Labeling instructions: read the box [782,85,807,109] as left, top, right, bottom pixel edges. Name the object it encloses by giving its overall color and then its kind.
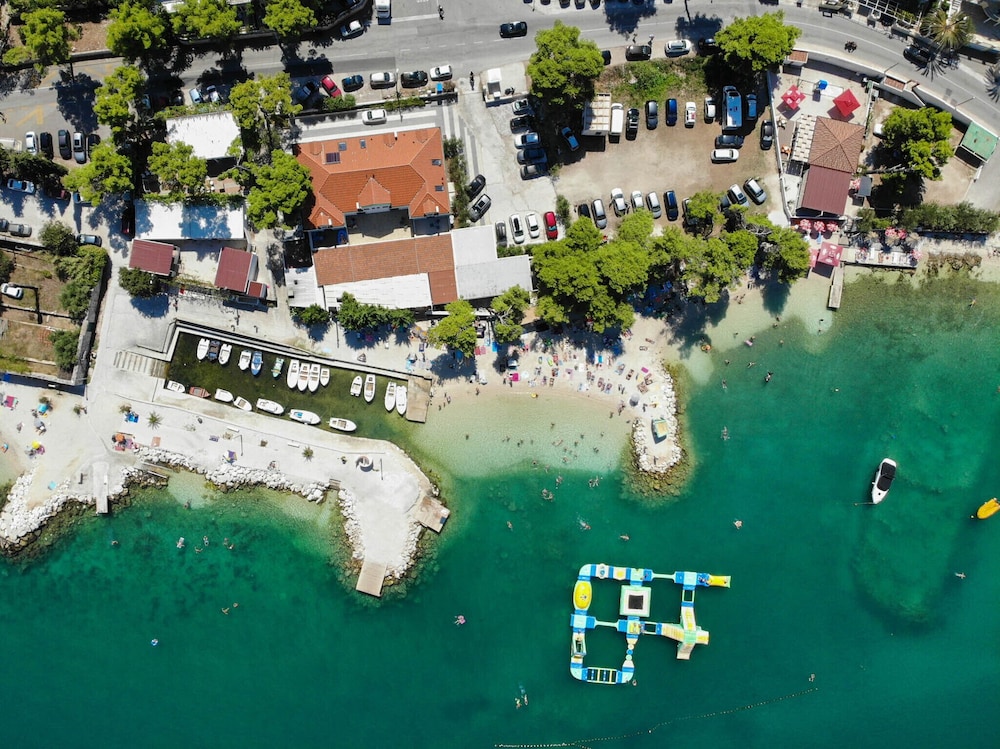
red umbrella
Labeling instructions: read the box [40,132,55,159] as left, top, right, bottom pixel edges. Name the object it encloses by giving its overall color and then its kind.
black car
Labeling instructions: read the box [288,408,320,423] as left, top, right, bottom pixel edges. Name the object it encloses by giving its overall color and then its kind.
white boat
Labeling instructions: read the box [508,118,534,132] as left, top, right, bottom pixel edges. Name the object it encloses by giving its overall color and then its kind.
black vehicle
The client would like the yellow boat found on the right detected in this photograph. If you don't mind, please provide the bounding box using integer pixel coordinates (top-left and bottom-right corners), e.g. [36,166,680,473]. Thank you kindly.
[977,493,1000,519]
